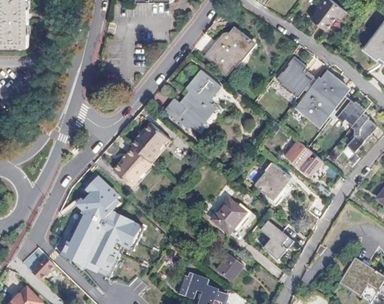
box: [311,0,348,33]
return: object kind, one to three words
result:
house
